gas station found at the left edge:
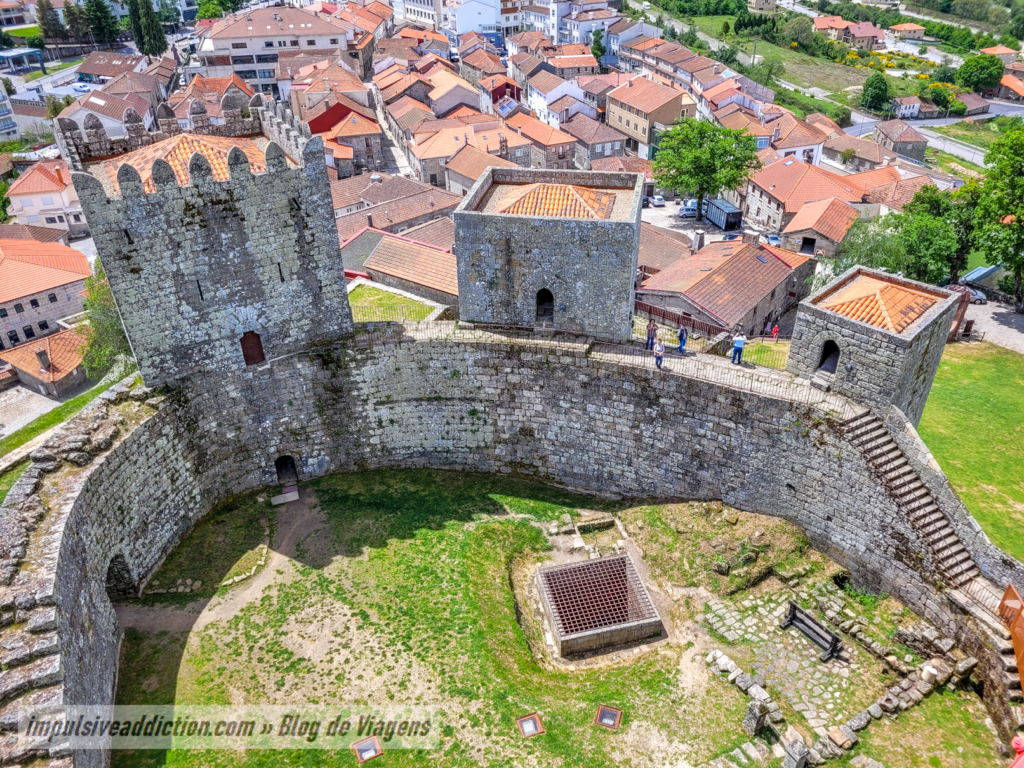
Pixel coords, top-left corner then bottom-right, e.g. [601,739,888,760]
[0,48,54,78]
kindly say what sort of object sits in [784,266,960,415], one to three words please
building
